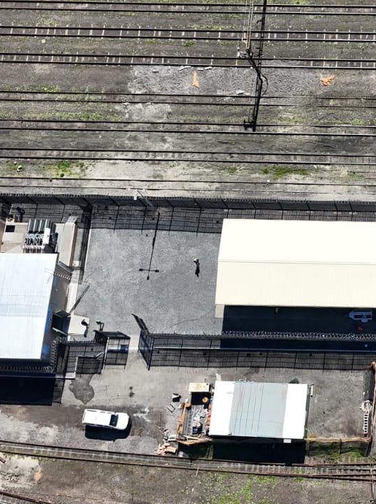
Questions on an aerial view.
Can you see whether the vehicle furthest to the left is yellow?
No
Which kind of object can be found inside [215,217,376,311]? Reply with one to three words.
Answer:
building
